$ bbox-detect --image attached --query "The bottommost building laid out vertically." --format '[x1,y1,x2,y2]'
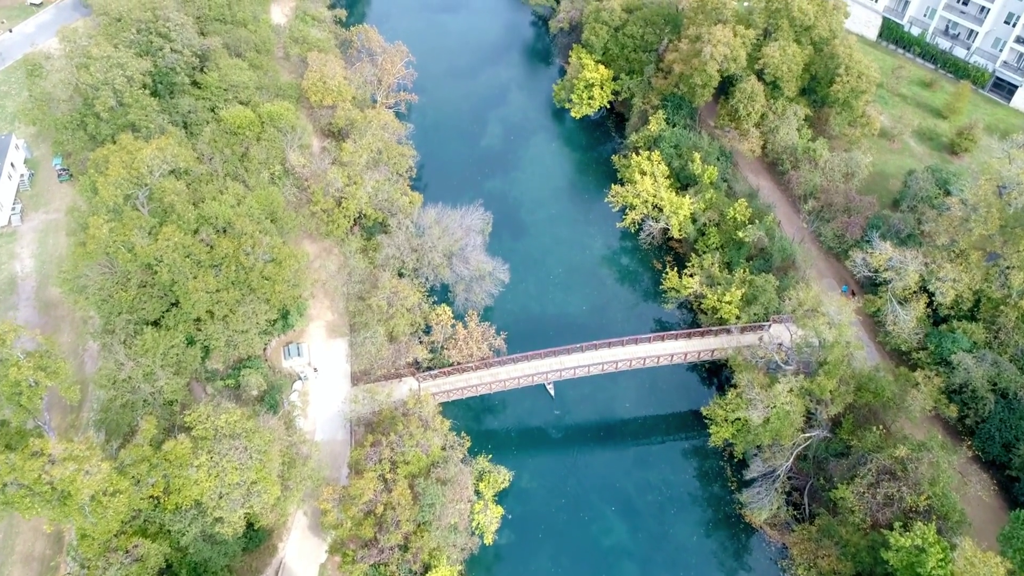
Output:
[0,124,43,226]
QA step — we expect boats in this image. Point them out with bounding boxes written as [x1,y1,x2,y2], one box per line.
[543,383,555,399]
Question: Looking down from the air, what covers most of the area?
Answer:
trees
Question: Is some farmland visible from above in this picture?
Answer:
No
